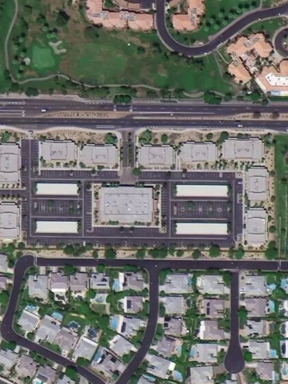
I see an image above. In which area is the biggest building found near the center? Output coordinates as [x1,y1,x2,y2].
[92,184,161,228]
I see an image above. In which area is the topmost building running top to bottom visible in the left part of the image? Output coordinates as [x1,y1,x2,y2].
[0,142,19,183]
